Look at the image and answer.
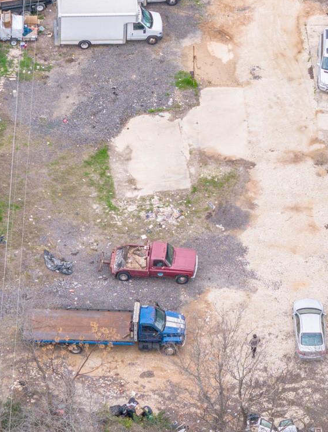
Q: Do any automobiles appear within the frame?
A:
Yes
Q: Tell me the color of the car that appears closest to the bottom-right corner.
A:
white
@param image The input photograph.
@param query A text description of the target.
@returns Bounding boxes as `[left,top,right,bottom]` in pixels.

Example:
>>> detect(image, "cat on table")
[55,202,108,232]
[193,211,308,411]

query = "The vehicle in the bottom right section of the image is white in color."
[288,303,327,367]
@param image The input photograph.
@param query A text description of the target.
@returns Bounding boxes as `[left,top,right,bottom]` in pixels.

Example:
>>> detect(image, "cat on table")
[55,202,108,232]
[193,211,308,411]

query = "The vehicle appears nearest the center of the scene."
[94,248,202,291]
